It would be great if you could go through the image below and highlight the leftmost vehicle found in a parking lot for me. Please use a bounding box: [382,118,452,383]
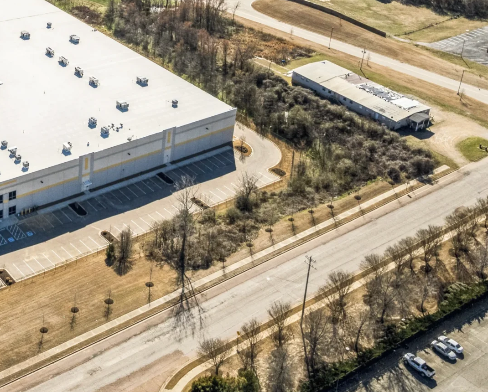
[402,356,438,374]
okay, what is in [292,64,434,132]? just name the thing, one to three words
building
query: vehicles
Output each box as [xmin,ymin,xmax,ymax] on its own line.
[438,337,465,351]
[431,343,458,357]
[402,356,438,374]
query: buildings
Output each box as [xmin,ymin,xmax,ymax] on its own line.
[292,64,434,132]
[0,0,237,220]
